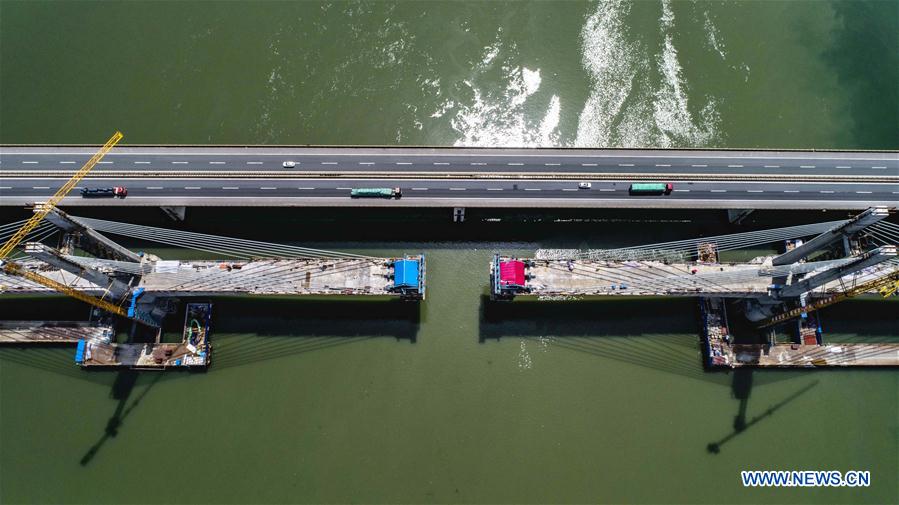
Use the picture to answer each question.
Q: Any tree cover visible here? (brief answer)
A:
No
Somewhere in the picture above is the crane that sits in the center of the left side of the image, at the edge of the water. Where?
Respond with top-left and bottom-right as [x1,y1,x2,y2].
[0,131,157,328]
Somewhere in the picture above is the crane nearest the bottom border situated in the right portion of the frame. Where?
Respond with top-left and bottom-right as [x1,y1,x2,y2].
[756,264,899,330]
